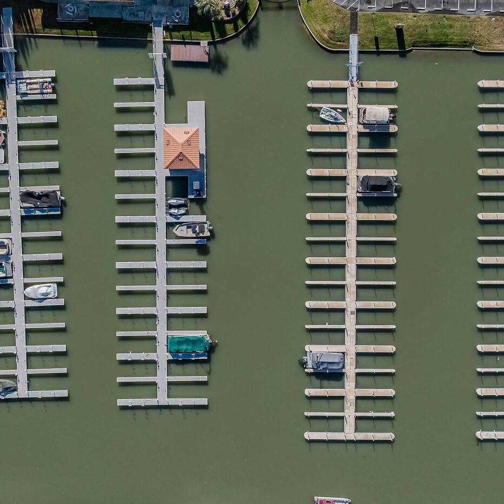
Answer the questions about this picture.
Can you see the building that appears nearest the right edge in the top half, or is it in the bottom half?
top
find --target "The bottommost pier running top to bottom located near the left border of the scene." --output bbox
[0,69,68,402]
